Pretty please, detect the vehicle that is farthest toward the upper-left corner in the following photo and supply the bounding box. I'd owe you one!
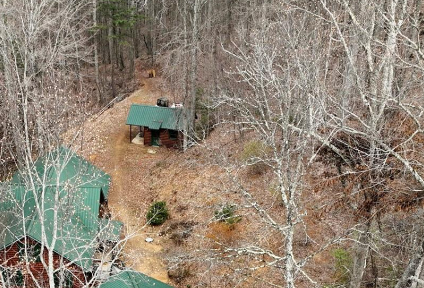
[154,95,171,111]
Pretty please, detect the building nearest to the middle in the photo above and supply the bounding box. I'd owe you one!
[132,110,195,148]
